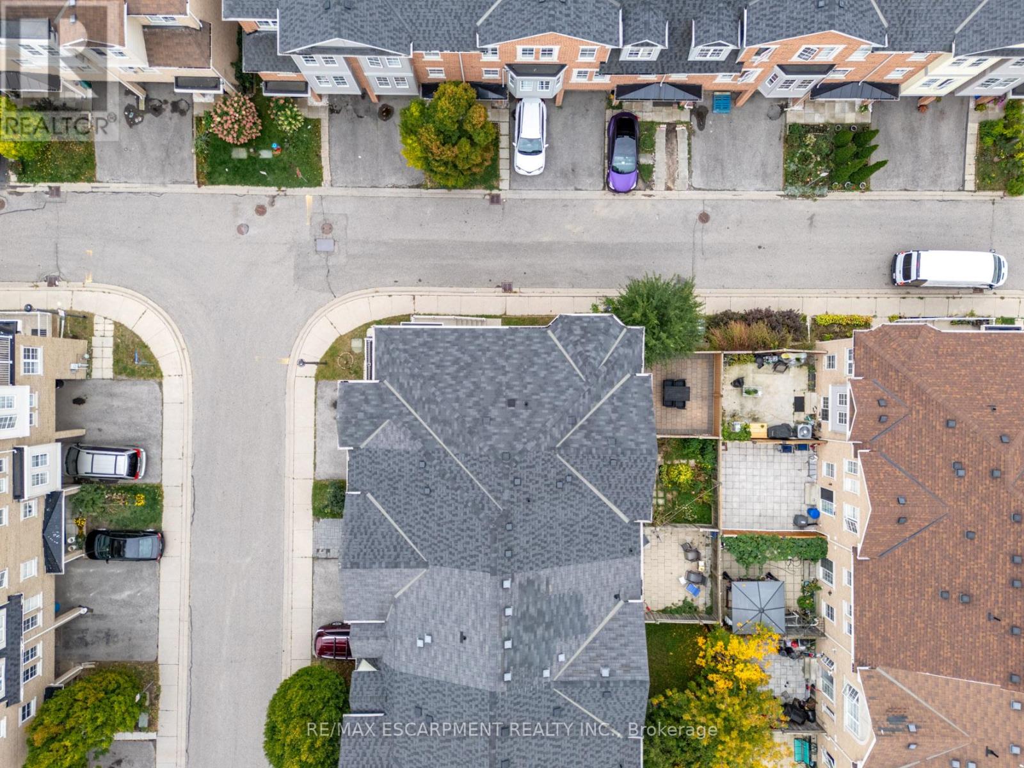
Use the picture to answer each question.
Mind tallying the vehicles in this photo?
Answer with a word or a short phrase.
6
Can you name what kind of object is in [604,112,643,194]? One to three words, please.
car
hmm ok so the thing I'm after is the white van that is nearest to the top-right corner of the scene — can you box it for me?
[898,244,1013,288]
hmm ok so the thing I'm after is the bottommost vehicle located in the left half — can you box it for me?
[316,615,349,654]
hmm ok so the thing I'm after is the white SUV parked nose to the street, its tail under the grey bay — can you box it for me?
[511,98,550,174]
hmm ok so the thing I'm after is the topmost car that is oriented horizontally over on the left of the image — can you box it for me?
[64,441,148,482]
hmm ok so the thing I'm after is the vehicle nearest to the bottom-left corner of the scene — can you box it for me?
[82,526,163,565]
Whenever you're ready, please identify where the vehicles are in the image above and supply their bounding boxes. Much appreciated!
[604,112,643,194]
[316,615,349,654]
[898,244,1013,288]
[82,526,163,565]
[511,98,550,174]
[64,441,148,482]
